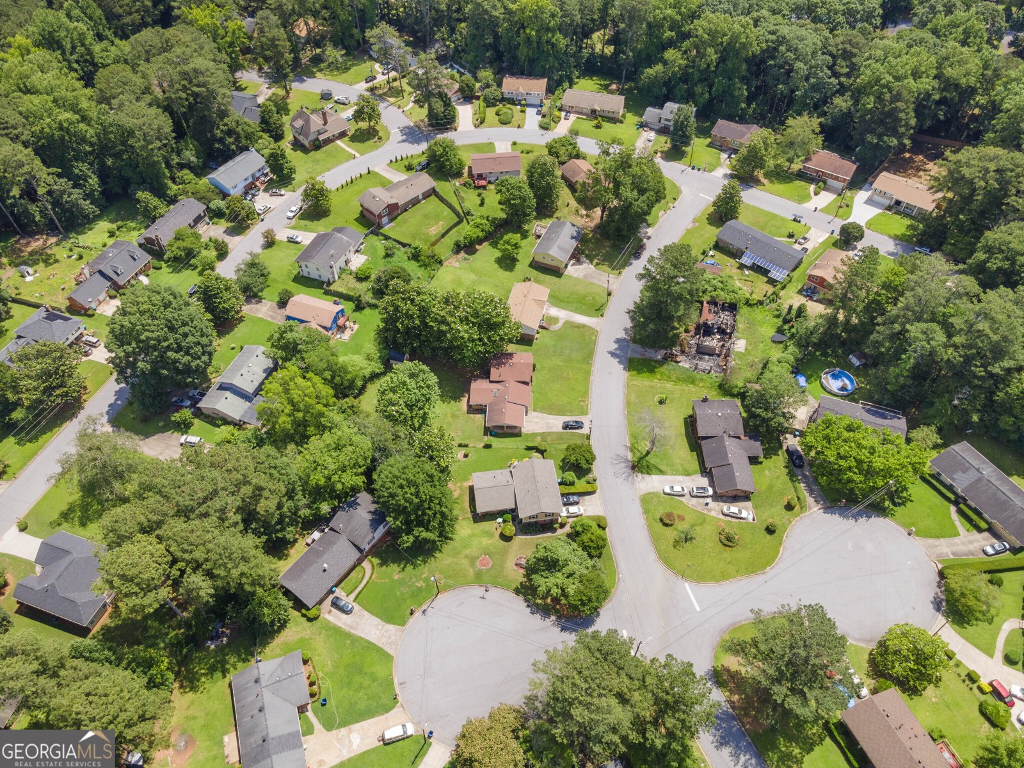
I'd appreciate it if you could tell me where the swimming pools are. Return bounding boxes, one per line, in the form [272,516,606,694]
[823,368,856,395]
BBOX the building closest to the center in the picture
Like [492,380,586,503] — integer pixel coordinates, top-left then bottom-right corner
[470,352,534,434]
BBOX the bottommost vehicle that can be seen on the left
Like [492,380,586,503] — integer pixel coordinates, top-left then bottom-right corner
[376,720,417,746]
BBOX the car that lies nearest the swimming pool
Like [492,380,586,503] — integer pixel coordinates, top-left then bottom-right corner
[786,446,805,468]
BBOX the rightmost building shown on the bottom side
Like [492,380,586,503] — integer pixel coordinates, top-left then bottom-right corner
[928,441,1024,554]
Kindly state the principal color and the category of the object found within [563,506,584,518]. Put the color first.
white vehicle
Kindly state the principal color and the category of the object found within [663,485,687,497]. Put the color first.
white vehicle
